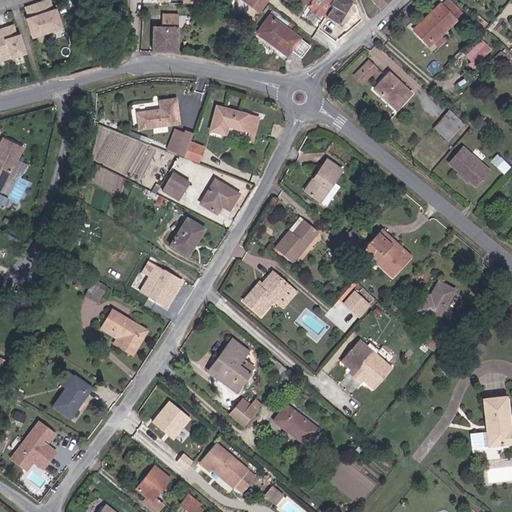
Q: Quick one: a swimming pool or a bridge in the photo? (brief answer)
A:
swimming pool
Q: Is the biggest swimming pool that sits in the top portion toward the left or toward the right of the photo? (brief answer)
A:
left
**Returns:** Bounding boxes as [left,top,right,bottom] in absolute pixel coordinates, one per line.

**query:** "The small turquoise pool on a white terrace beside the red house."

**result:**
[20,464,54,496]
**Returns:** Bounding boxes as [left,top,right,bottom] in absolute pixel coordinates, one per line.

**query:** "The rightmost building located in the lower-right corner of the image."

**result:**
[470,396,512,450]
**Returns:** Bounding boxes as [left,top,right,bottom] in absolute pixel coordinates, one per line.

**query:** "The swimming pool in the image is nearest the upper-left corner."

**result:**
[8,178,31,206]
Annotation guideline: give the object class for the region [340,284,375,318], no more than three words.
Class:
house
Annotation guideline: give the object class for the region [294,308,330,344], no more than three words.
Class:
swimming pool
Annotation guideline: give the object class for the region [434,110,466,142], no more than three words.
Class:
building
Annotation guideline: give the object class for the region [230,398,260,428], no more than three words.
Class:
house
